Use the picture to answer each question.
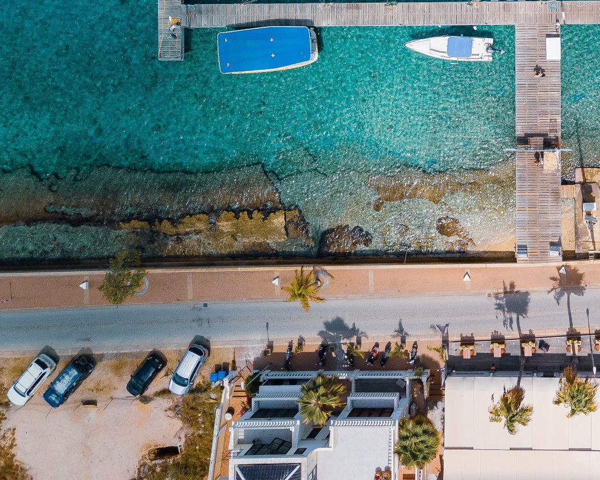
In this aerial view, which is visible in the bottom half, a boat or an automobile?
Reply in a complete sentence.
There is an automobile in the bottom half.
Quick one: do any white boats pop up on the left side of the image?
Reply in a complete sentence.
No, on the left side of the image there is no white boat.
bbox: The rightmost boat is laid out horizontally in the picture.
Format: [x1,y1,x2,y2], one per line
[404,34,504,64]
